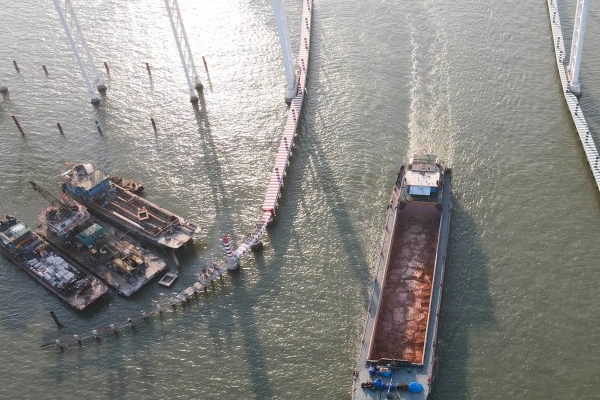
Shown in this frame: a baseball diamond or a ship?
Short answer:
ship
